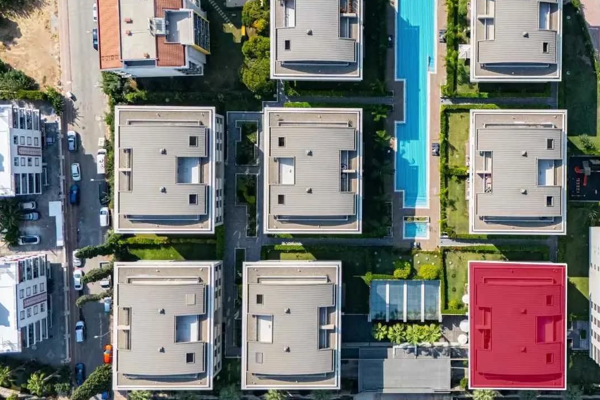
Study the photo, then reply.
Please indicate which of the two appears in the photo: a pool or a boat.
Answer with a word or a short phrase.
pool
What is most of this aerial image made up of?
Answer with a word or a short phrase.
buildings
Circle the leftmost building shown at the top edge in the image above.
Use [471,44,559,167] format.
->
[97,0,215,79]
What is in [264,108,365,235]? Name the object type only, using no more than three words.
building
